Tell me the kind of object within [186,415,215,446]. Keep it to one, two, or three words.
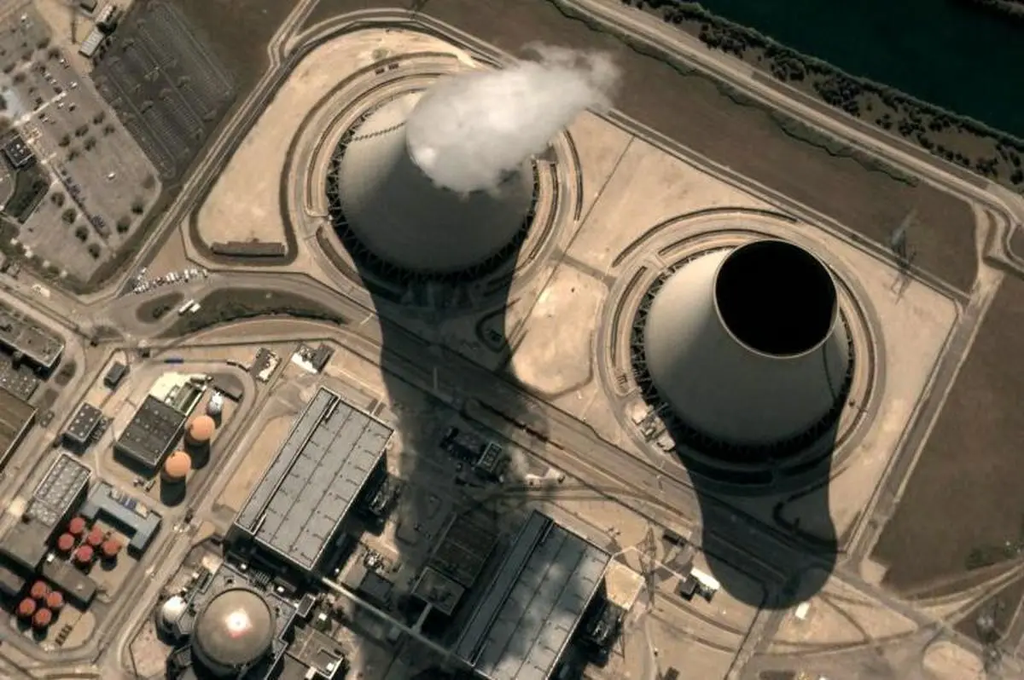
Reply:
storage tank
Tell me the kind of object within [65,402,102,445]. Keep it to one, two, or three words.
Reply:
building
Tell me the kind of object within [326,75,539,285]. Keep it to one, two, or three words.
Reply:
cooling tower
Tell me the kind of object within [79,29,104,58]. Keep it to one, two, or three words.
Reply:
shed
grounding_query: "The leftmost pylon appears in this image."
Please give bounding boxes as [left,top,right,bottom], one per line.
[634,529,655,564]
